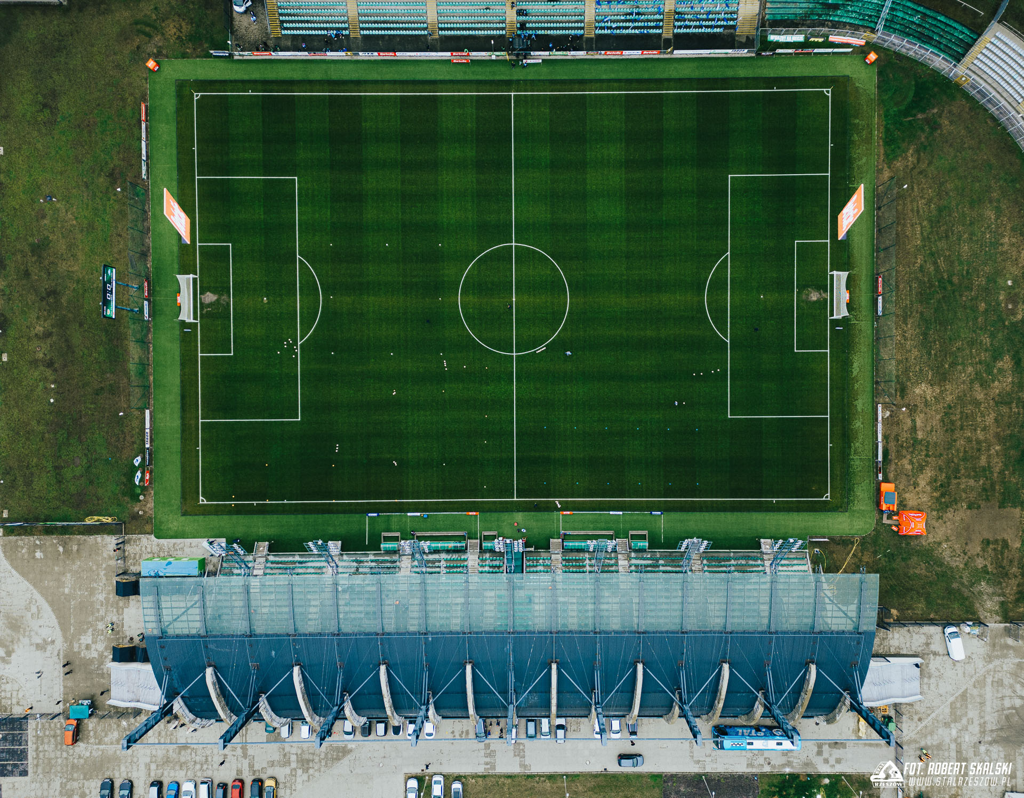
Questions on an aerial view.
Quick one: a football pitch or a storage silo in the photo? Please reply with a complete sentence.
Visible in the photo is a football pitch.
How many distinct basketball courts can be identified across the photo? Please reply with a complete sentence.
No basketball courts are visible.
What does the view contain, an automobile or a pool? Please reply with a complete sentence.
Looking from above, you can make out an automobile.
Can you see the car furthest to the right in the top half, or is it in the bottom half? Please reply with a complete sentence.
The car furthest to the right sits in the bottom half of the picture.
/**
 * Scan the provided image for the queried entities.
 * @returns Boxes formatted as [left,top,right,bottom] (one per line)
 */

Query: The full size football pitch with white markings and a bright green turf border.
[148,54,877,550]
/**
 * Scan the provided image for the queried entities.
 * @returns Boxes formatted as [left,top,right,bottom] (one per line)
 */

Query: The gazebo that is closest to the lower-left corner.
[70,700,96,719]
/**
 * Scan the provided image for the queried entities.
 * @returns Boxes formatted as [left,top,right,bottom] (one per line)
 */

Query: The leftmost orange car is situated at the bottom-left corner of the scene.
[63,719,79,745]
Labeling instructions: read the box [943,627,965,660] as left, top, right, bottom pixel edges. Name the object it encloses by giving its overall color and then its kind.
white car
